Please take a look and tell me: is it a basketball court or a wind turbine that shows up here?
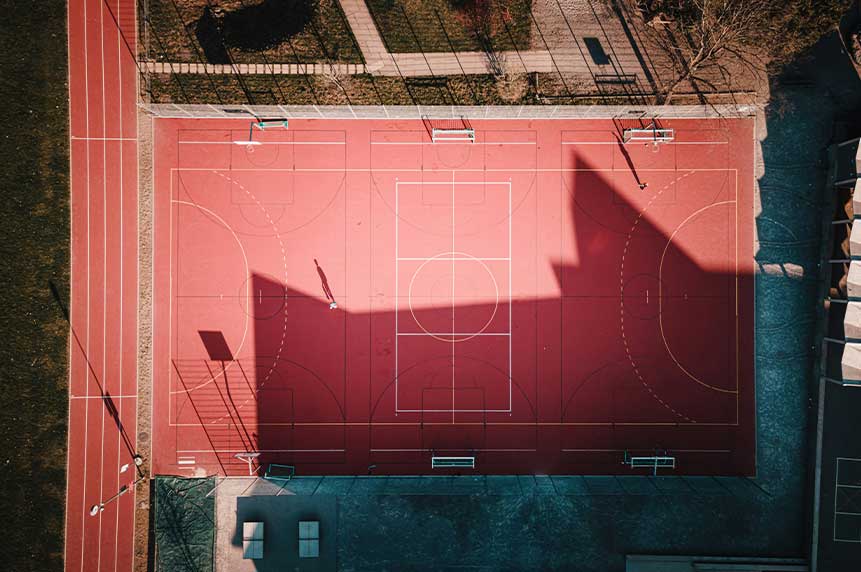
basketball court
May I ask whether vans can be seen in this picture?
No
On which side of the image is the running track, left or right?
left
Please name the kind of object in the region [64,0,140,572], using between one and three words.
running track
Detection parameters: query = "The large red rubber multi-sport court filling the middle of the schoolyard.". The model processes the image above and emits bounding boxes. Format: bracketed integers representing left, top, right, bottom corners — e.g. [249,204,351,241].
[151,114,758,479]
